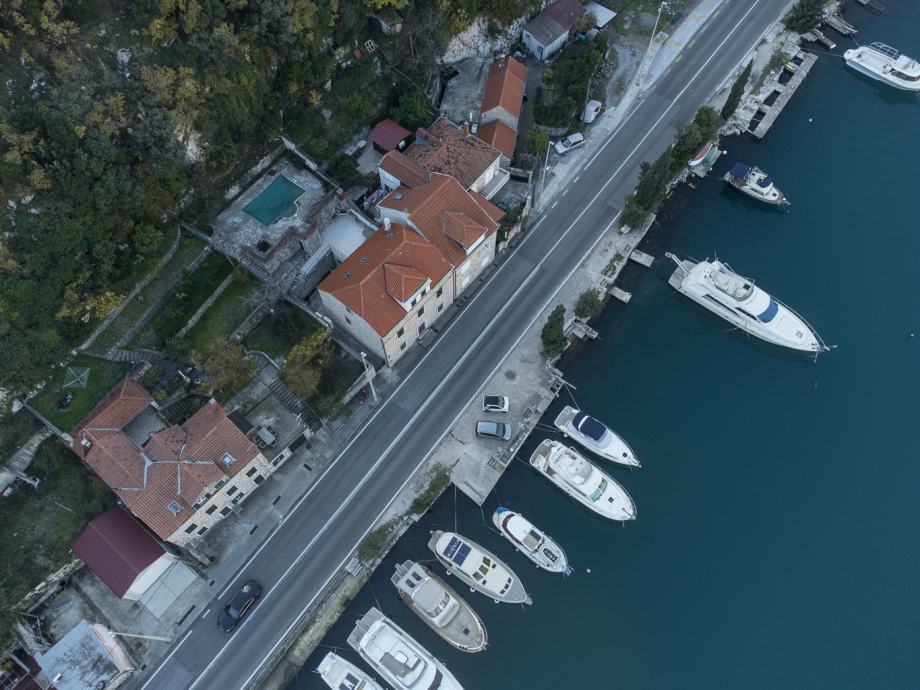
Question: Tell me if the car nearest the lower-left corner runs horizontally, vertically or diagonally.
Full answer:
What the image shows is the car nearest the lower-left corner lying diagonally.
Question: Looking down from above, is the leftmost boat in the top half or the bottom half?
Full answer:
The bottom half of the photo is where the leftmost boat is.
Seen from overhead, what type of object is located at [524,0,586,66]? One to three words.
shed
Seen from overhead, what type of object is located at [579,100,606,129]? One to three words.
car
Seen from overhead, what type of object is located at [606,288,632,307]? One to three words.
pier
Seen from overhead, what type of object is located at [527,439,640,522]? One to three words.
boat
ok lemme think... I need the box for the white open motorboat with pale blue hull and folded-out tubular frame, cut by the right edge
[841,48,920,103]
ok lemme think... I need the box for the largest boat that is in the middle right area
[666,244,826,361]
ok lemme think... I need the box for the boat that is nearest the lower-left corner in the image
[314,650,382,690]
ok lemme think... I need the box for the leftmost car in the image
[217,580,264,633]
